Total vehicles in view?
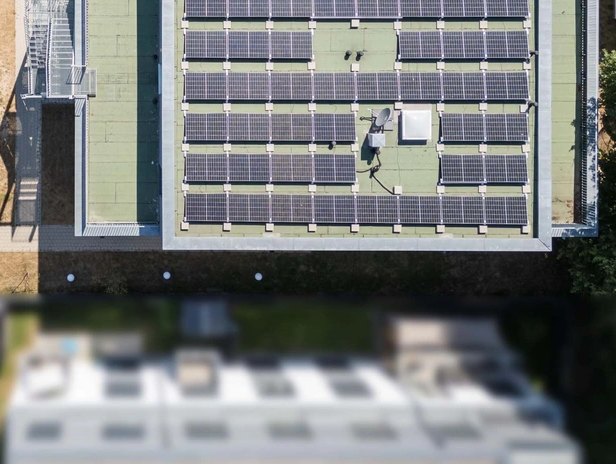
0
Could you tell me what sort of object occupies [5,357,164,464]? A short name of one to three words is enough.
house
